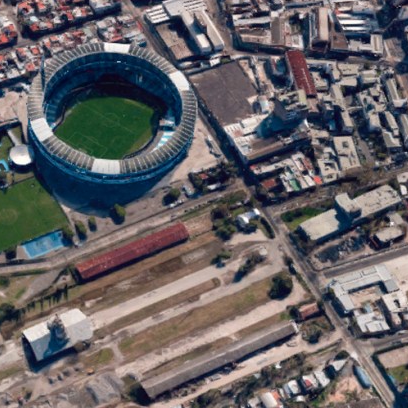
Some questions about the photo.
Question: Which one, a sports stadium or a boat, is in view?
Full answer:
Of the two, only a sports stadium appears.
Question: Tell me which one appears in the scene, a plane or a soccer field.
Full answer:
Visible in the photo is a soccer field.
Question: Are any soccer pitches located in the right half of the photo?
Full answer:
No, no soccer pitch is visible in the right half of the photo.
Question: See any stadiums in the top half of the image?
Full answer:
Yes, in the top half of the image there is a stadium.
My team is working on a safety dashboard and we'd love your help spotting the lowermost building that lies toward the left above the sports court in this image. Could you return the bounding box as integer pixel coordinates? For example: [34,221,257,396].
[10,147,32,167]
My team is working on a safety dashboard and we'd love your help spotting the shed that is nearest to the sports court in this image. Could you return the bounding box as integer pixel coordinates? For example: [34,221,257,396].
[76,222,190,284]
